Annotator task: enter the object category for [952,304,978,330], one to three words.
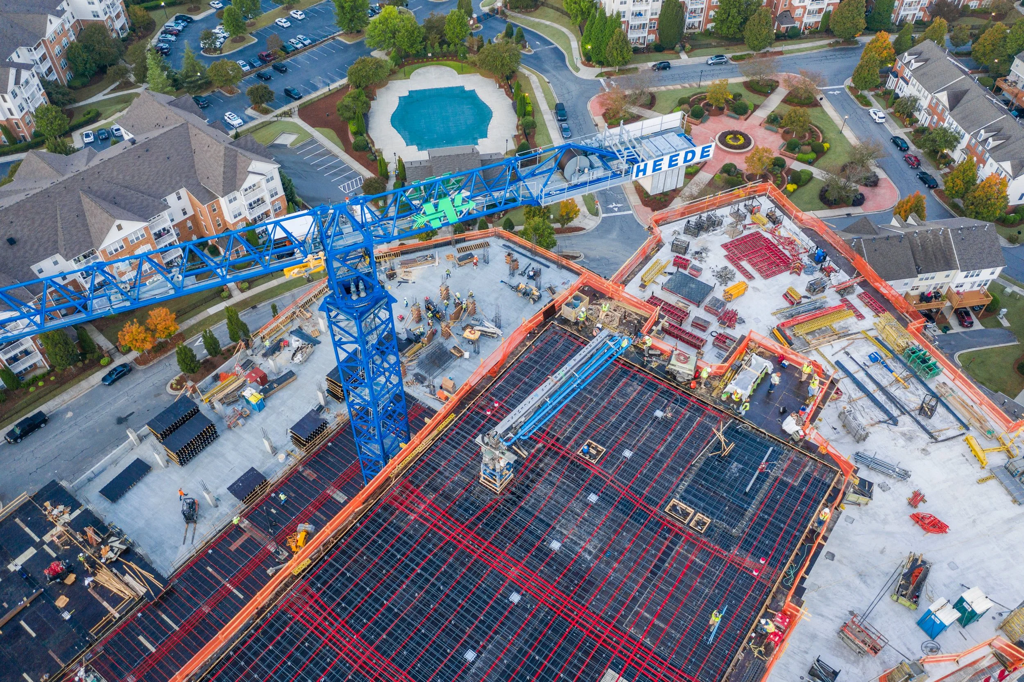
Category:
car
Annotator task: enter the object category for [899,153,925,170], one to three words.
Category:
car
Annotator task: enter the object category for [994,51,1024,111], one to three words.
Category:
house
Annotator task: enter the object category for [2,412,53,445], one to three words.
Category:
truck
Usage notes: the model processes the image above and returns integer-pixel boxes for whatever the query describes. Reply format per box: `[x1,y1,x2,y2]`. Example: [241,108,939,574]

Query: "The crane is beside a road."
[0,106,716,484]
